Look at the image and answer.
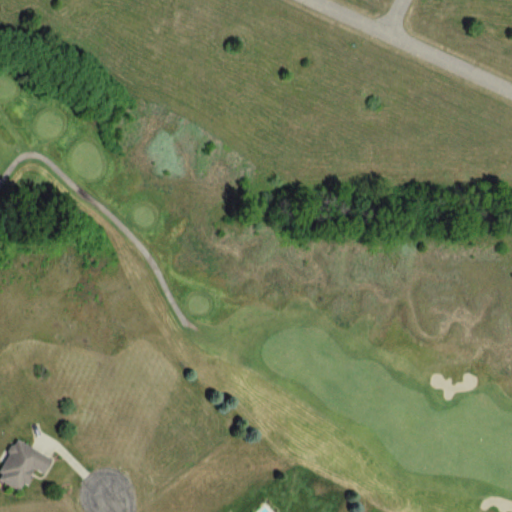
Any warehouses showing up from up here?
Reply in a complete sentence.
No, the frame has no warehouse in it.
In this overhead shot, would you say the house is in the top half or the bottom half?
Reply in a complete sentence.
The house is in the bottom half of the image.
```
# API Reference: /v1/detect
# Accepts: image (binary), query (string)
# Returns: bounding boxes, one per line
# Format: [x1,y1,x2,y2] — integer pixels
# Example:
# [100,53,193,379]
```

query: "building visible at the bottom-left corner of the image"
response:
[0,440,52,492]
